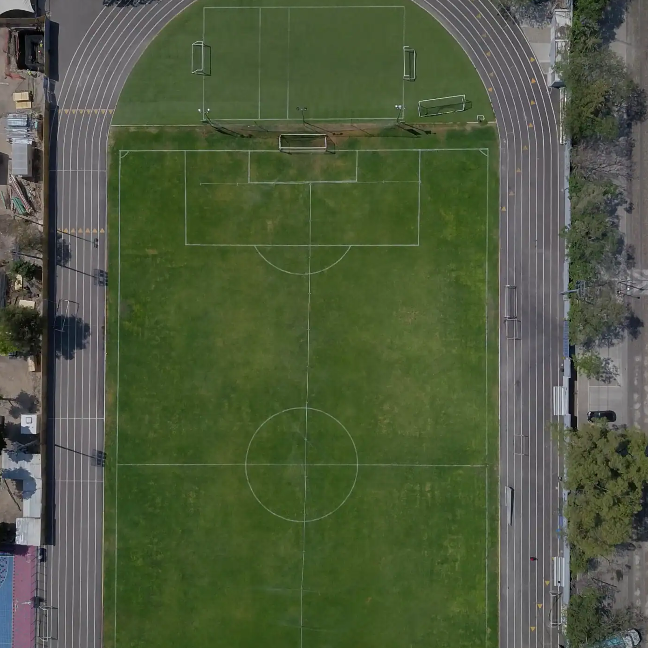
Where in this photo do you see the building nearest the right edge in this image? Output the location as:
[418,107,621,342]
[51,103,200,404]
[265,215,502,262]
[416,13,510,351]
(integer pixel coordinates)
[549,9,571,84]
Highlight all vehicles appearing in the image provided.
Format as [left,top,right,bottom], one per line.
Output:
[584,625,639,648]
[587,410,617,424]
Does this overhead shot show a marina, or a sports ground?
sports ground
